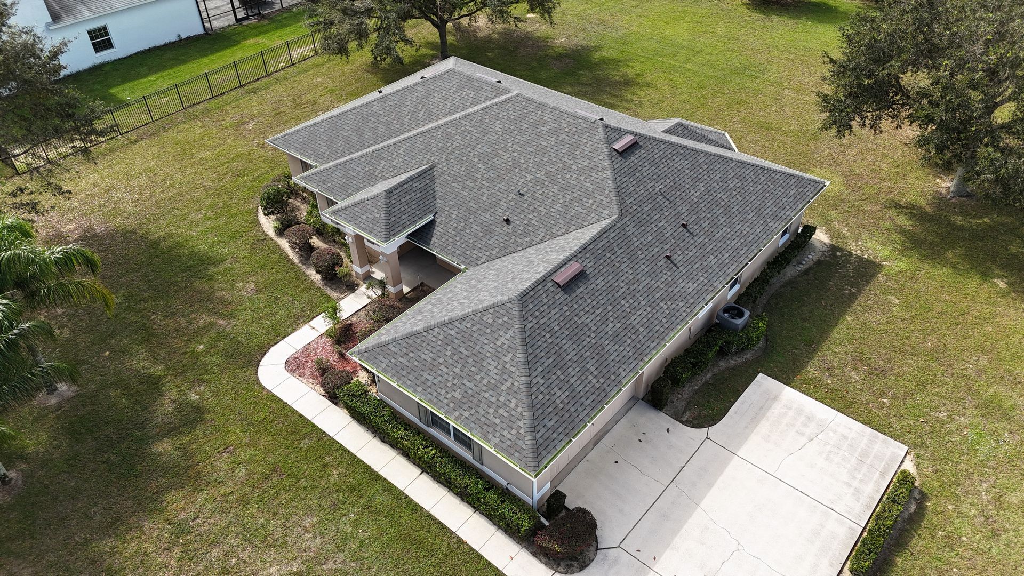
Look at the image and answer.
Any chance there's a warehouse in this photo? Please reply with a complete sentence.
No, no warehouse is visible in the scene.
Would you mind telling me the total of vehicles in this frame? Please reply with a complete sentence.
The count of vehicles is 0.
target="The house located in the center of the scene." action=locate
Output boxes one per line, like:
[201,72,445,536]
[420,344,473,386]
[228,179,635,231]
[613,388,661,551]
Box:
[267,55,831,520]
